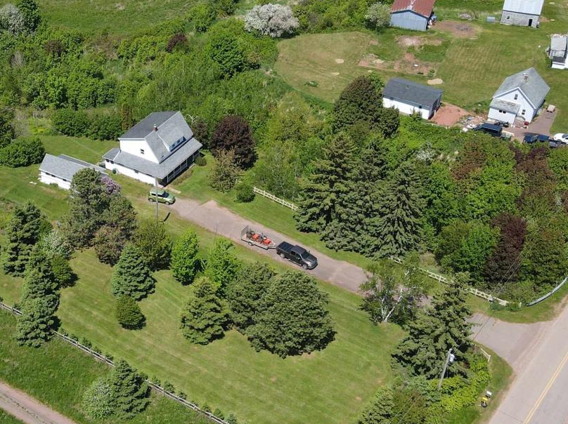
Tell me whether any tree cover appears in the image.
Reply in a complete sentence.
Yes, the picture does contain tree cover.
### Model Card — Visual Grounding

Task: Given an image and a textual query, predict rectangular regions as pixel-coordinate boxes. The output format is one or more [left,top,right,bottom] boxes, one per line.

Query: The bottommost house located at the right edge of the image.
[487,66,550,123]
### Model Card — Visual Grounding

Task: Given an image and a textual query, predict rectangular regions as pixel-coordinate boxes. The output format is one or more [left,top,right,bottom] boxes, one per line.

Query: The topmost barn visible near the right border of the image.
[500,0,545,27]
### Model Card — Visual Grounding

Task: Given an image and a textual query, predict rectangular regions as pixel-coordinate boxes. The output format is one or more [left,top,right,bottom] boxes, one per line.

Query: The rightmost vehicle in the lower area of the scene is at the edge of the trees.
[277,243,320,270]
